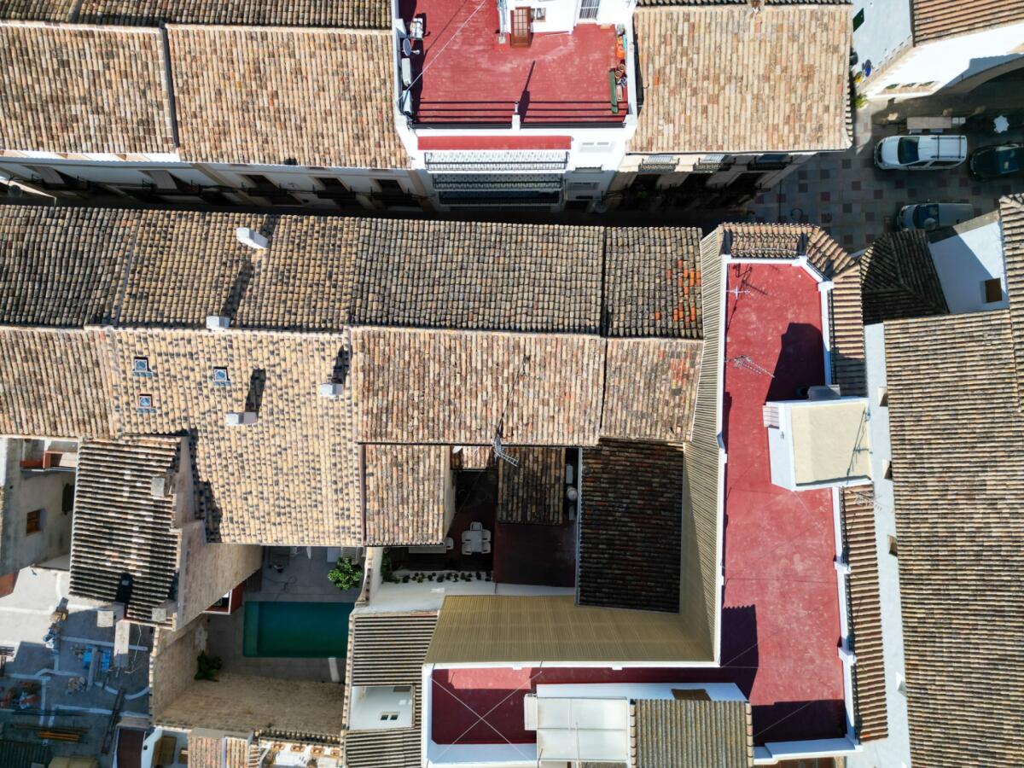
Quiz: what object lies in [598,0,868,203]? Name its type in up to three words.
house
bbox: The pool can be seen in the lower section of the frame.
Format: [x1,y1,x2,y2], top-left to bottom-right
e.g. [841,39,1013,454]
[238,596,359,663]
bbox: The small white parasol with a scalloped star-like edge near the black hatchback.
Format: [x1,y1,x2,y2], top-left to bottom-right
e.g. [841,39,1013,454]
[970,115,1010,143]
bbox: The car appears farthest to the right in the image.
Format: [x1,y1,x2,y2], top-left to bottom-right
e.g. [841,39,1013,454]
[977,137,1024,182]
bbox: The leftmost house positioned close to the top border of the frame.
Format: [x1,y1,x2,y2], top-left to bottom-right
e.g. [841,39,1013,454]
[0,0,252,210]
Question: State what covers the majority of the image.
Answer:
buildings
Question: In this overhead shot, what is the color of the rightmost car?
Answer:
black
